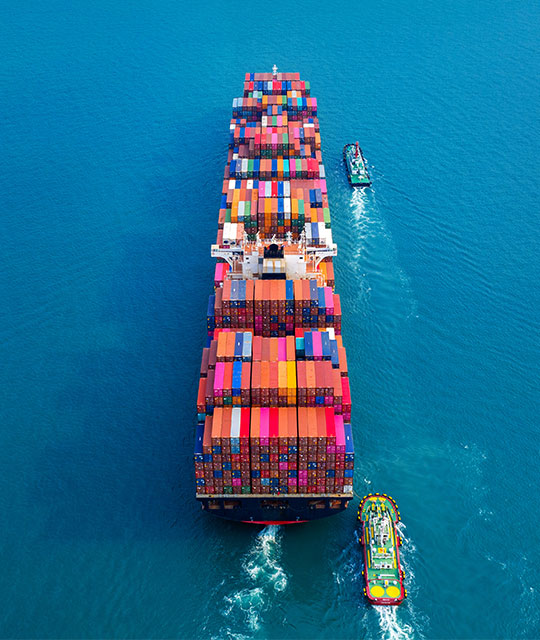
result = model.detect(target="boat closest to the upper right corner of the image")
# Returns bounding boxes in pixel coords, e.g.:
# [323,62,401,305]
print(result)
[341,144,370,187]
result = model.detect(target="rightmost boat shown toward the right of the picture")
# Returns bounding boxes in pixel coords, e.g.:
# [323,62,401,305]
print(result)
[358,492,407,606]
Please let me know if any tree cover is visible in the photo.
No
